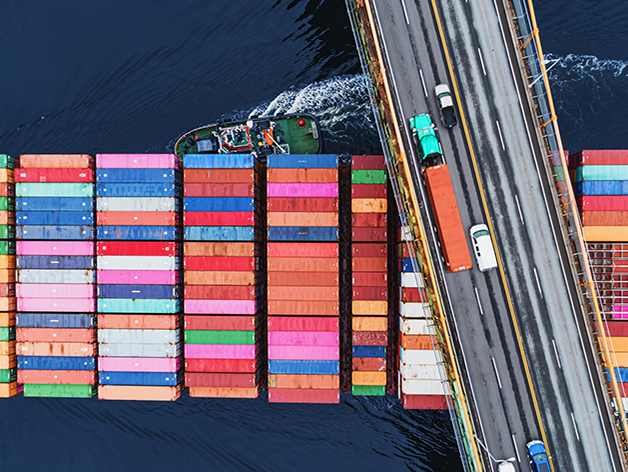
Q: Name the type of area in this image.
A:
port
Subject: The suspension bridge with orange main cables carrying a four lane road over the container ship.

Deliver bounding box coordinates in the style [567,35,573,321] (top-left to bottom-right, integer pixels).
[344,0,628,472]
